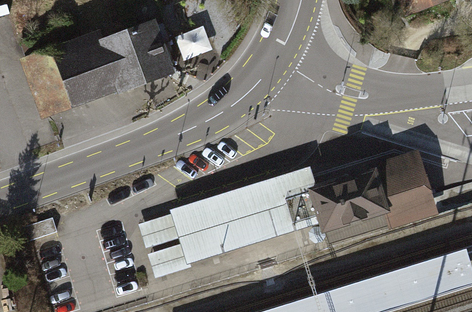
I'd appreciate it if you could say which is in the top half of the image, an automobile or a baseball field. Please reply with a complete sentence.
It is an automobile that can be seen in the top half of the image.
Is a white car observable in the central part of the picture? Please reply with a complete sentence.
Yes, looking in the central part of the picture, one can make out a white car.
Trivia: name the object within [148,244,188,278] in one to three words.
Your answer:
shed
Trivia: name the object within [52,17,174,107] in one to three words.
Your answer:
building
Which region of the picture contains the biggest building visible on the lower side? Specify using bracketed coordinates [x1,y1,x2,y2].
[170,167,314,265]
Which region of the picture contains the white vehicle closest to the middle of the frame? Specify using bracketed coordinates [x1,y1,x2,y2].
[216,142,238,160]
